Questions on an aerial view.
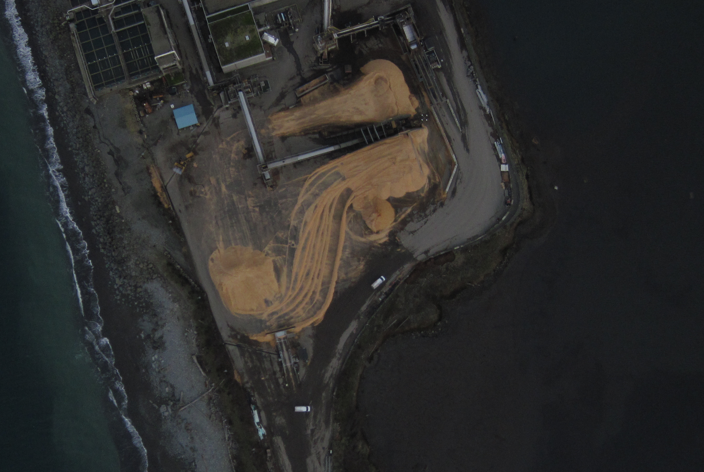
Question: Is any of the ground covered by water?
Yes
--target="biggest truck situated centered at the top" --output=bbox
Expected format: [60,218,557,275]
[391,7,443,107]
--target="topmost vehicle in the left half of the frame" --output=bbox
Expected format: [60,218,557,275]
[263,33,278,47]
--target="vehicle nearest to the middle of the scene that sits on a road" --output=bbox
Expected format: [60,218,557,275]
[370,275,386,290]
